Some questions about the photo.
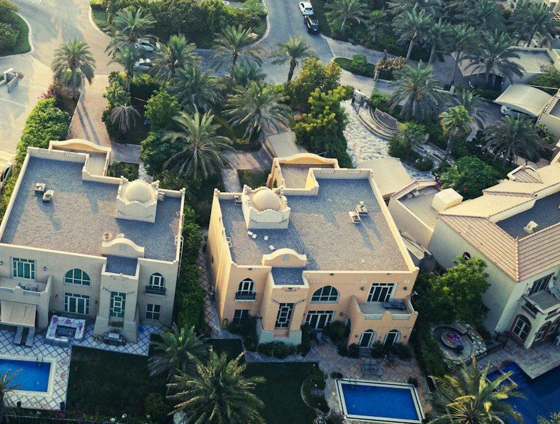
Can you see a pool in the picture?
Yes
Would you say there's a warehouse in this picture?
No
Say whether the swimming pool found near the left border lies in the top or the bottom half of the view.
bottom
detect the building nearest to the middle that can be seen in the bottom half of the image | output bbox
[211,165,423,368]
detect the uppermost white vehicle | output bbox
[299,0,316,15]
